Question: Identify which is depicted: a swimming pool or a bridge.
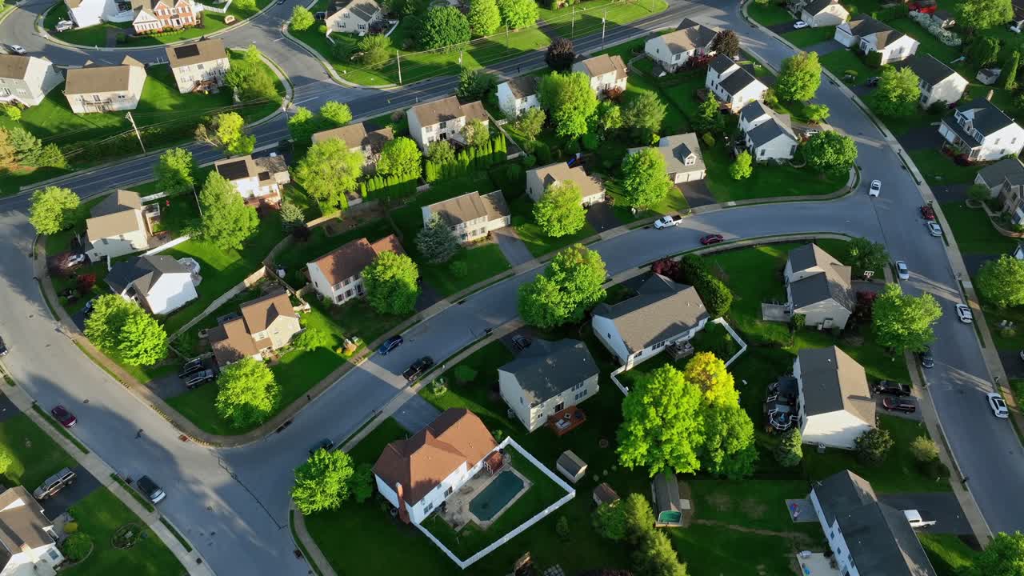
swimming pool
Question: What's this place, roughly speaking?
residential area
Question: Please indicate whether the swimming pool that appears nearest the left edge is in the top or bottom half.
bottom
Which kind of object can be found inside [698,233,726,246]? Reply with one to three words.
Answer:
vehicle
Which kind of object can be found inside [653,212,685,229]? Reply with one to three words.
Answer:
vehicle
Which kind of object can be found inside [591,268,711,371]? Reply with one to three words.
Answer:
house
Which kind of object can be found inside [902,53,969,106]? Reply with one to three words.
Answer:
house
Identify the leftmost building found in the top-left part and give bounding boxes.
[0,52,59,102]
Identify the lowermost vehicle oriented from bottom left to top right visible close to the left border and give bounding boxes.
[32,462,80,499]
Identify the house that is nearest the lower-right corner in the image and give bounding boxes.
[806,463,940,576]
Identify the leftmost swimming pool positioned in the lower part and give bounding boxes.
[468,467,525,521]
